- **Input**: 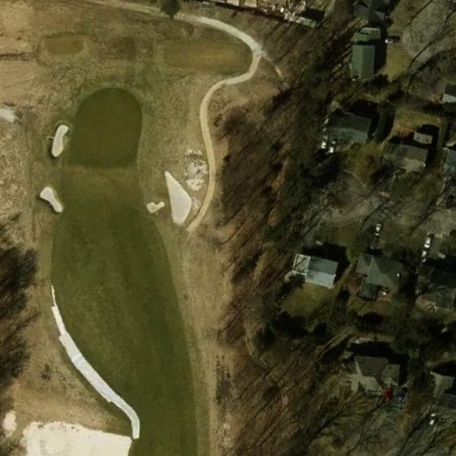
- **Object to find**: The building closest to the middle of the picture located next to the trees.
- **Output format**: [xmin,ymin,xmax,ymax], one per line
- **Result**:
[293,253,339,287]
